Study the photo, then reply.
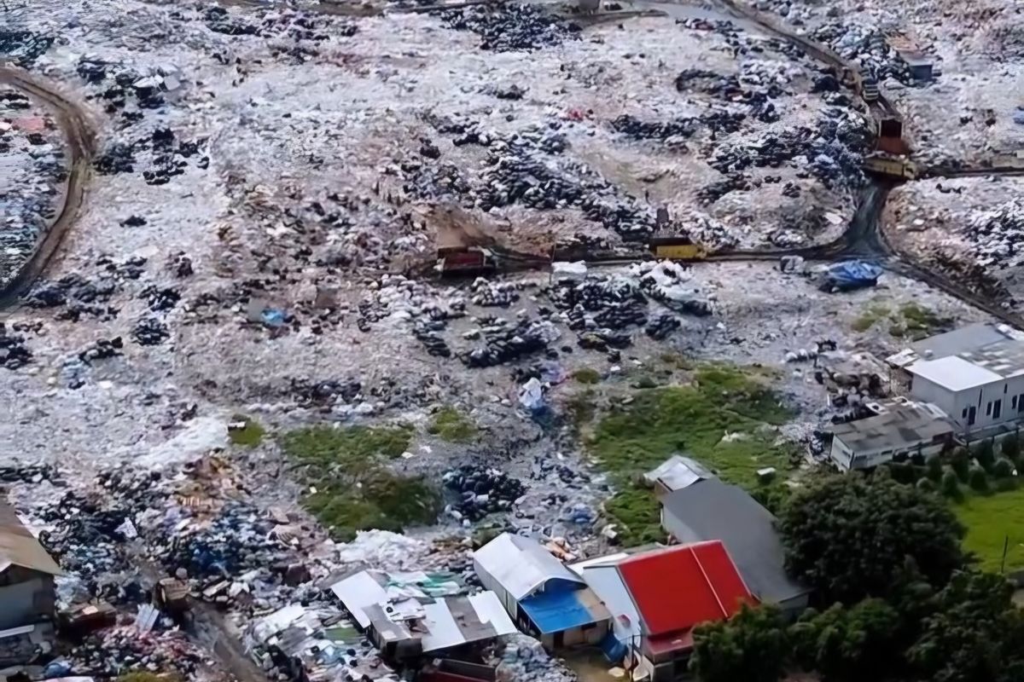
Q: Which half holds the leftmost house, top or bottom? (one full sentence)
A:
The leftmost house is in the bottom half of the image.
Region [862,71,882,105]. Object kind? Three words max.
vehicle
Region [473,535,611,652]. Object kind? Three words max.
house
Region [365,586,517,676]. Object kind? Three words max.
shed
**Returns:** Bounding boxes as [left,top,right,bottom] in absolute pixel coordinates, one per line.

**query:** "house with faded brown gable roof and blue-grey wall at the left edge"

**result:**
[0,506,67,628]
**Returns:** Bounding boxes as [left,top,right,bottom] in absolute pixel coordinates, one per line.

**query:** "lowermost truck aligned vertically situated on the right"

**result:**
[880,108,905,151]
